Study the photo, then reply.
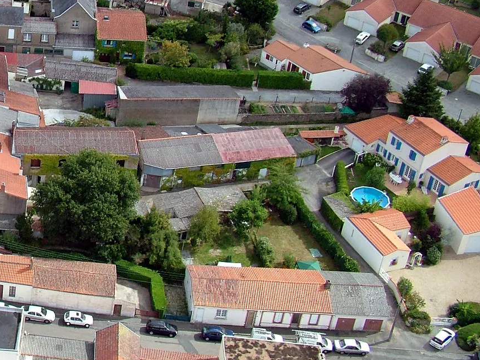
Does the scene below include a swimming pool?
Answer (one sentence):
Yes, there's a swimming pool down there.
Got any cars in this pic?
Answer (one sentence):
Yes, a car can be made out from above.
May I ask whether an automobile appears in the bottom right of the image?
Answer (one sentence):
Yes, an automobile shows up in the bottom right of the image.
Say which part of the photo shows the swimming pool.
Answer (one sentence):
The swimming pool is in the right part of the image.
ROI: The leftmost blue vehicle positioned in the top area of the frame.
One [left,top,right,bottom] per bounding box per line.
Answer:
[302,19,321,33]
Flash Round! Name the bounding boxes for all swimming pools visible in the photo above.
[349,184,397,210]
